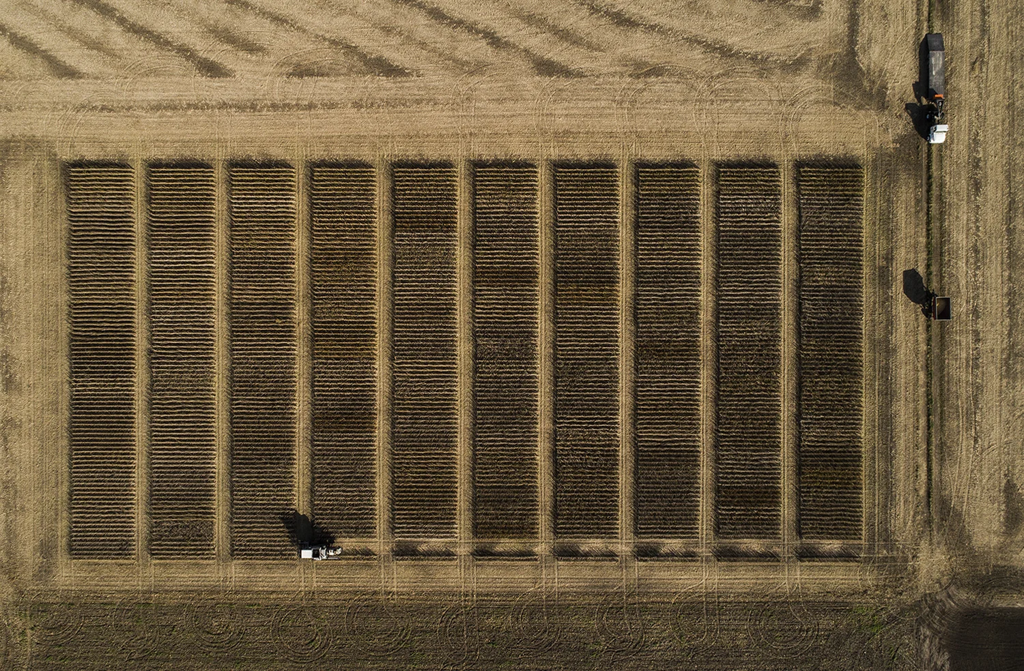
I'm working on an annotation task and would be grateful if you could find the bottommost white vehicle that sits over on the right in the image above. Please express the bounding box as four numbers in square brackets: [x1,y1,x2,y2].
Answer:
[926,108,950,145]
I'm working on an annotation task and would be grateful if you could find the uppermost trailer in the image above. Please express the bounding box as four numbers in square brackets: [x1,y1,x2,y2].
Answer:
[927,35,944,117]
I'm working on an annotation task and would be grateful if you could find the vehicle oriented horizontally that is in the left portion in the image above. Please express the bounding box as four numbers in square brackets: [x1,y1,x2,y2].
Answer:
[297,541,342,561]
